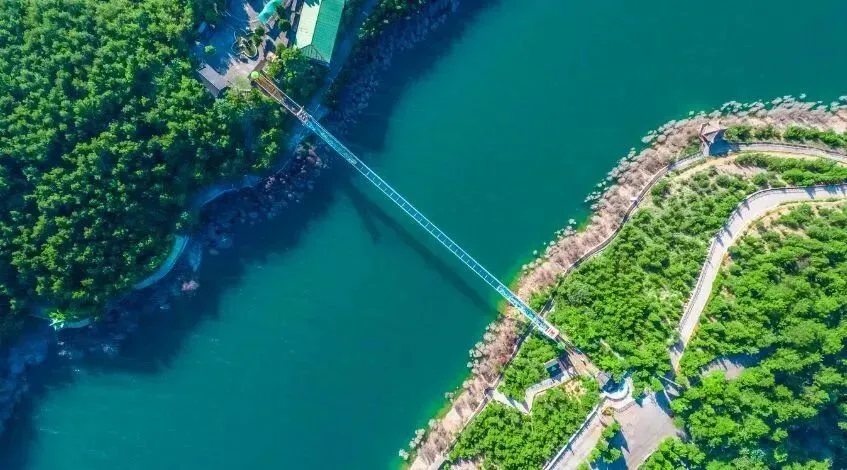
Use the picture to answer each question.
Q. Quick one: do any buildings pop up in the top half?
Yes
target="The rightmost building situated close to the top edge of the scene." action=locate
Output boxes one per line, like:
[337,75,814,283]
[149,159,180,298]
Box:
[297,0,347,62]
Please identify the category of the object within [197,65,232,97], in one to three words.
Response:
building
